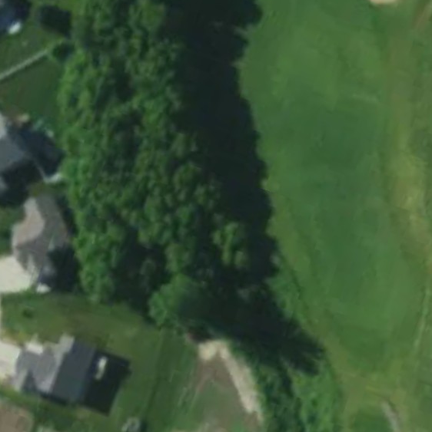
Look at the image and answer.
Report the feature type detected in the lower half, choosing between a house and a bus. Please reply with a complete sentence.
Visible in the lower half is a house.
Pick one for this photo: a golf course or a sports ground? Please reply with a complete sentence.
This image shows a golf course.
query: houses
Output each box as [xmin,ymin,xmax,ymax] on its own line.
[6,193,70,282]
[0,115,25,197]
[10,332,97,408]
